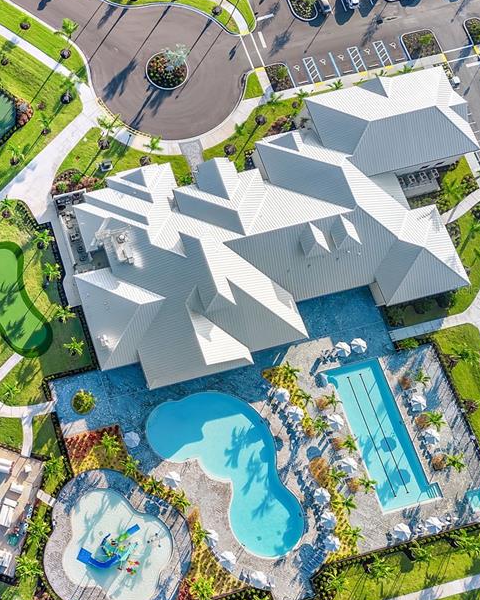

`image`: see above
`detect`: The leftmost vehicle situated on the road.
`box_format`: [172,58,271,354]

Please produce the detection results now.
[317,0,332,14]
